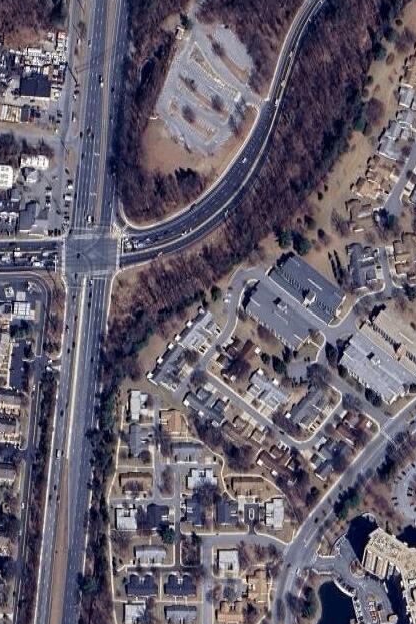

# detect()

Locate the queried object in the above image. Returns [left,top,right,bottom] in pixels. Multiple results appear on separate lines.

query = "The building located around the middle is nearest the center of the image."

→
[177,308,215,350]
